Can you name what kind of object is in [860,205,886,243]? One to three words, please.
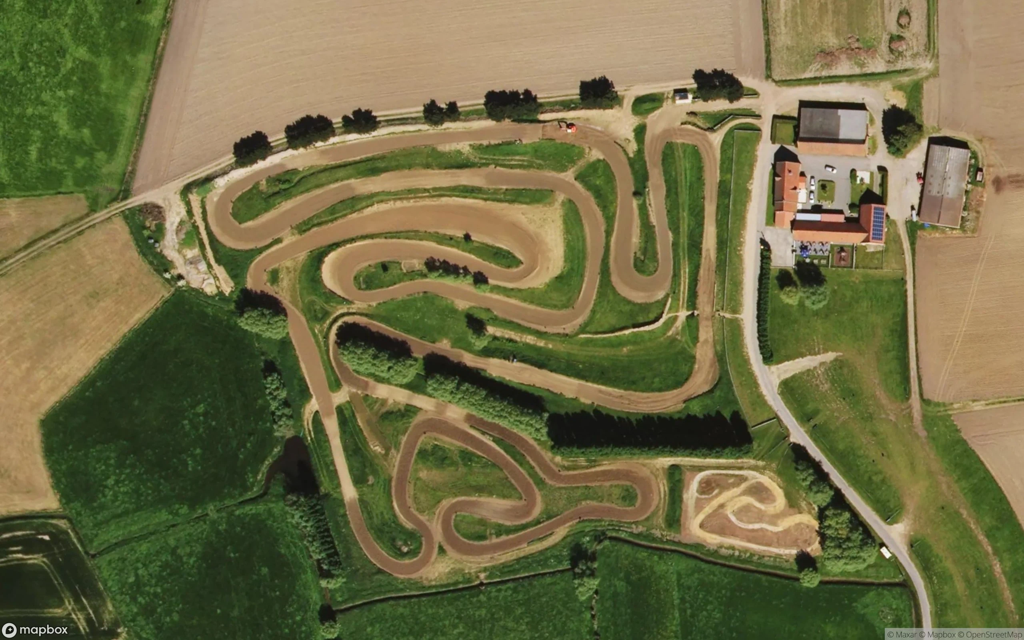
barn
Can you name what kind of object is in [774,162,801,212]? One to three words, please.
house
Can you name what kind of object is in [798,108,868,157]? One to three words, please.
barn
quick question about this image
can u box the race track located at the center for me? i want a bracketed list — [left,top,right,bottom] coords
[204,122,720,576]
